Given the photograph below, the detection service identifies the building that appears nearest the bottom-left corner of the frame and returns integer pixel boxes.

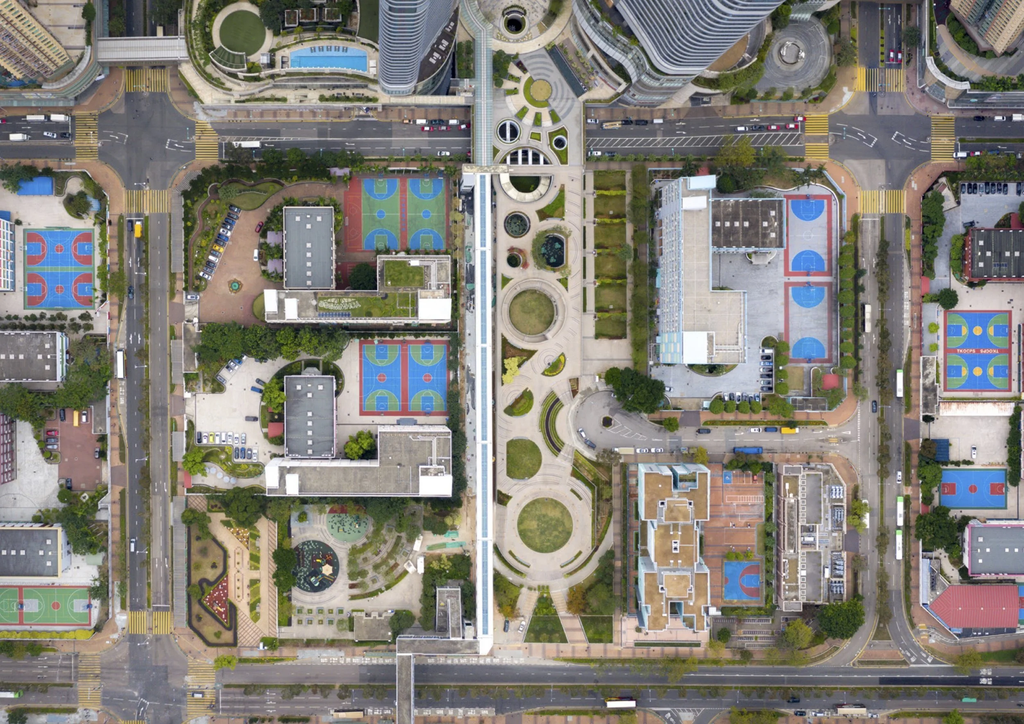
[0,519,73,578]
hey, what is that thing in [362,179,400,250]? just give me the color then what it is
green basketball court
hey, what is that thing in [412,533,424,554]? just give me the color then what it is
white vehicle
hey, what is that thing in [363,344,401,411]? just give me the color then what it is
blue basketball court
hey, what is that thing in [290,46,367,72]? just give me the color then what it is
blue swimming pool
